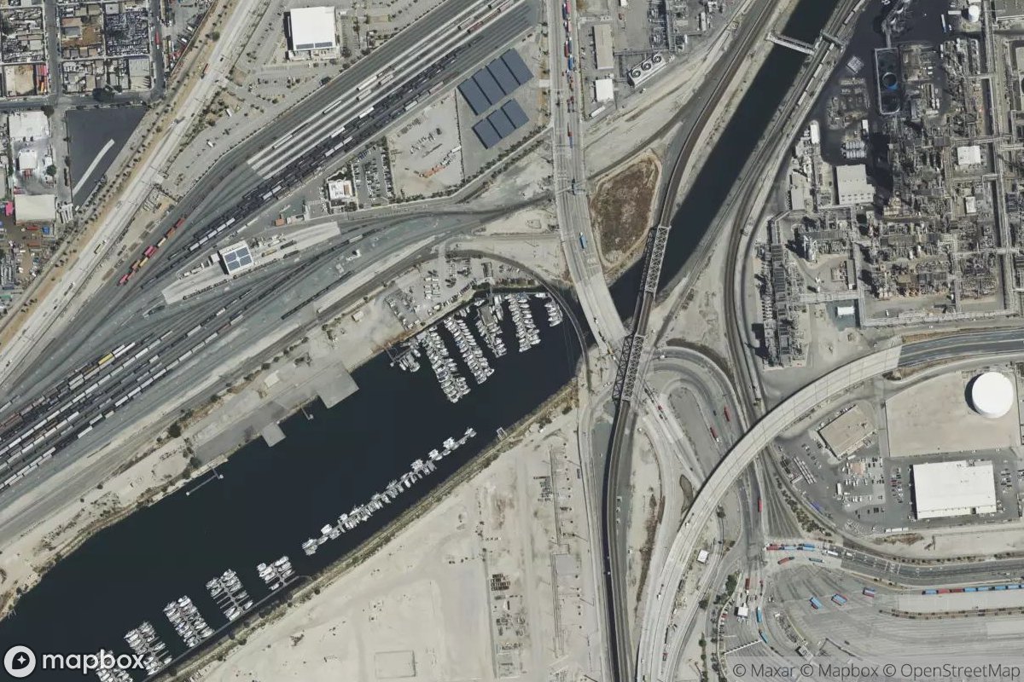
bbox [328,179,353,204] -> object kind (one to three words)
building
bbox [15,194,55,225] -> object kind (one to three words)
building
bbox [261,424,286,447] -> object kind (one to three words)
pier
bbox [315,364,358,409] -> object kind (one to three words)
pier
